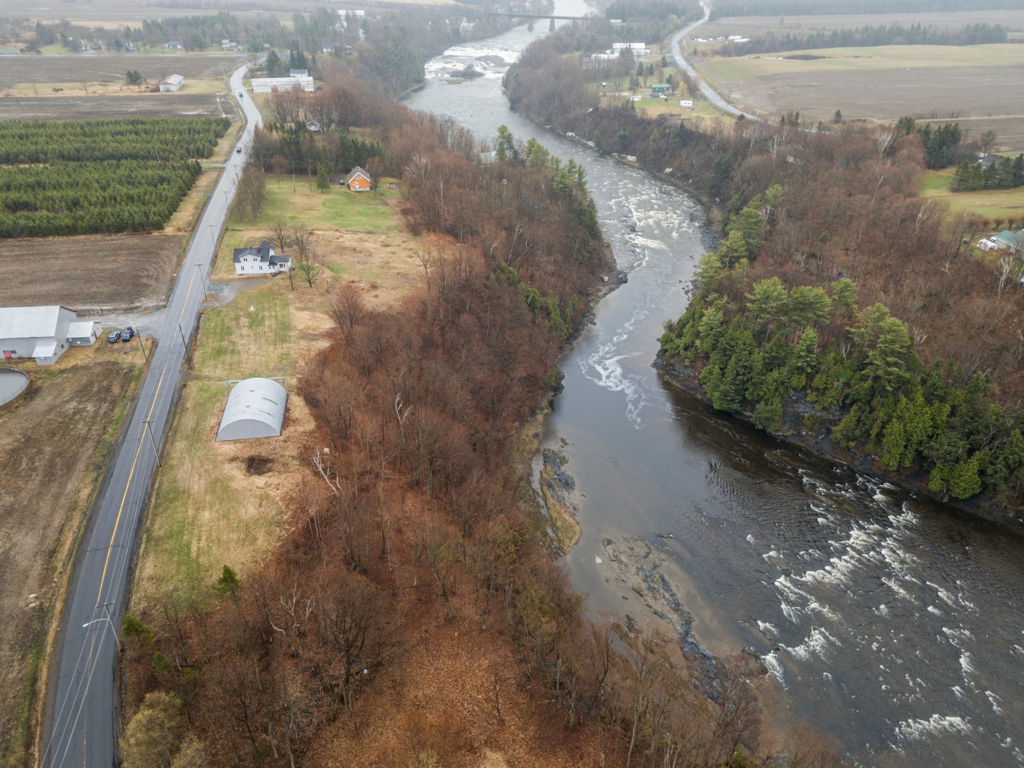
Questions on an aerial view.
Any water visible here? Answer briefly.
Yes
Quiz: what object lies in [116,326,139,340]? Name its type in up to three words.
vehicle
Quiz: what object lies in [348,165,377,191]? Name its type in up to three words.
house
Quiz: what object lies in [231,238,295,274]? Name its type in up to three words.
house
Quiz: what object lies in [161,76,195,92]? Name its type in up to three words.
barn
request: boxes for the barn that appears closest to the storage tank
[0,305,84,365]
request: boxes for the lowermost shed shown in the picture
[215,376,297,441]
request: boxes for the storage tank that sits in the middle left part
[0,365,29,419]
